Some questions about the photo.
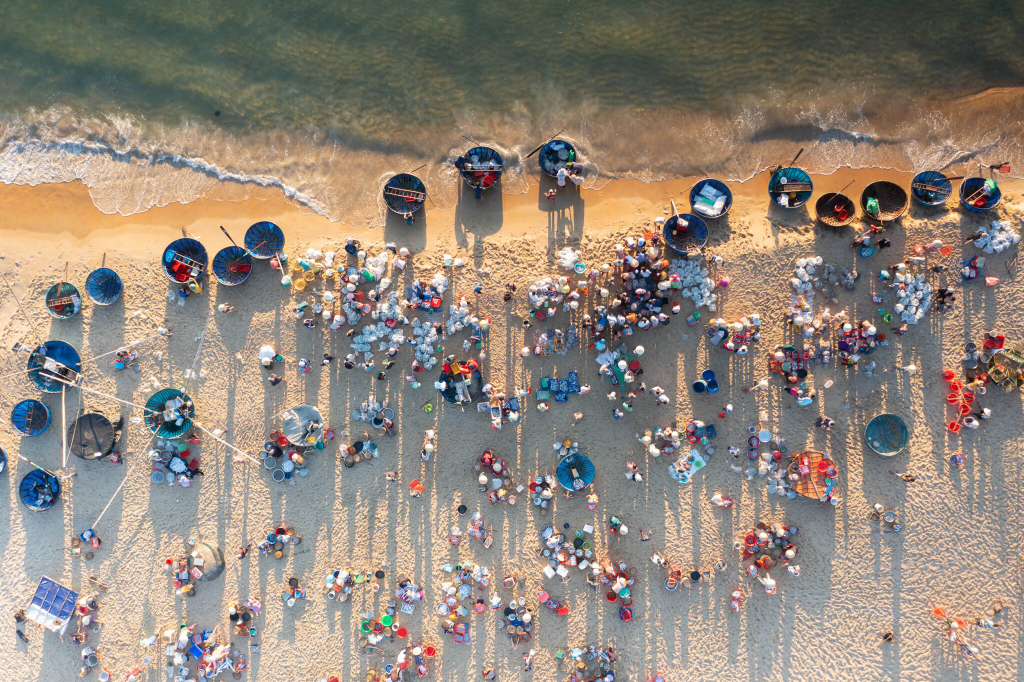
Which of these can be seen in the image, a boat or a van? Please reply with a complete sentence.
Of the two, only a boat appears.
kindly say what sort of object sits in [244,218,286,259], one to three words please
boat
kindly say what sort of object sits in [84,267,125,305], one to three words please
boat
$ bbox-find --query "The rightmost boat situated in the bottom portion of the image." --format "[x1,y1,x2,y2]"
[862,410,909,457]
